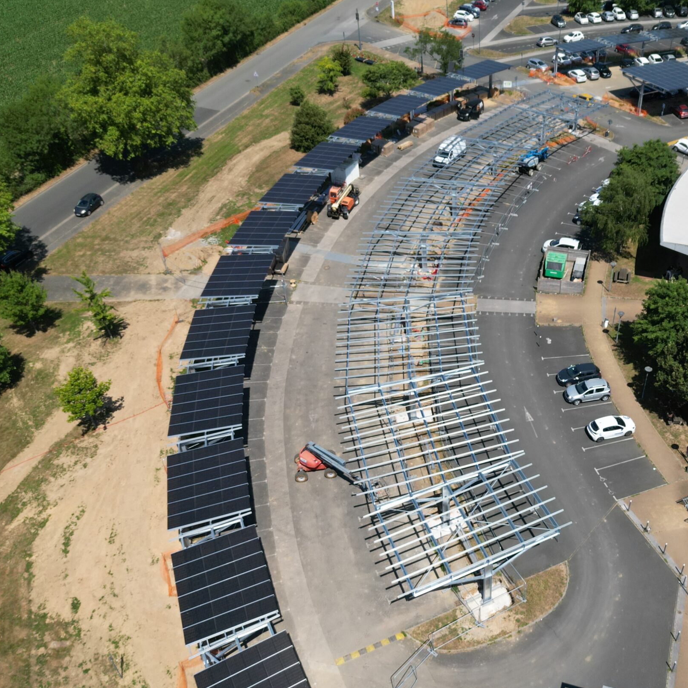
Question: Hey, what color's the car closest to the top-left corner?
black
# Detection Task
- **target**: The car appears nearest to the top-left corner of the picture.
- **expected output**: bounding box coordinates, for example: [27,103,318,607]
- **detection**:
[71,193,105,214]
